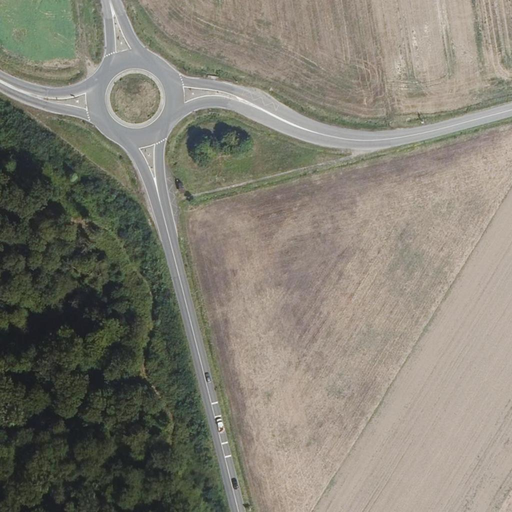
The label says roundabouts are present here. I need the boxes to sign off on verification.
[84,42,186,149]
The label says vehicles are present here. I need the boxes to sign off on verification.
[232,478,238,490]
[205,372,211,382]
[216,419,224,432]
